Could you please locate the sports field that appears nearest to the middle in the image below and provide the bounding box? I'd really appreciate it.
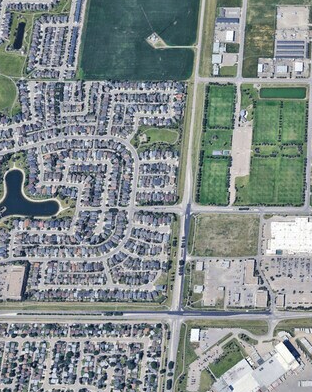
[199,161,229,203]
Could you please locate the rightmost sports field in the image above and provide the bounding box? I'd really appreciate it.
[281,102,308,143]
